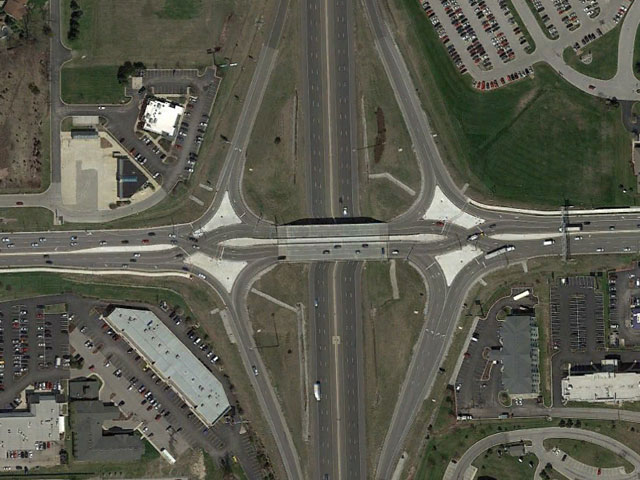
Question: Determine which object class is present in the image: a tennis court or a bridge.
bridge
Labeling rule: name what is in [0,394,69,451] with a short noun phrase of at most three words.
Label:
building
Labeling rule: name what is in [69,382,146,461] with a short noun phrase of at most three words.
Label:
building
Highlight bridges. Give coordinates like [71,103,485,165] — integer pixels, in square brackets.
[278,222,389,261]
